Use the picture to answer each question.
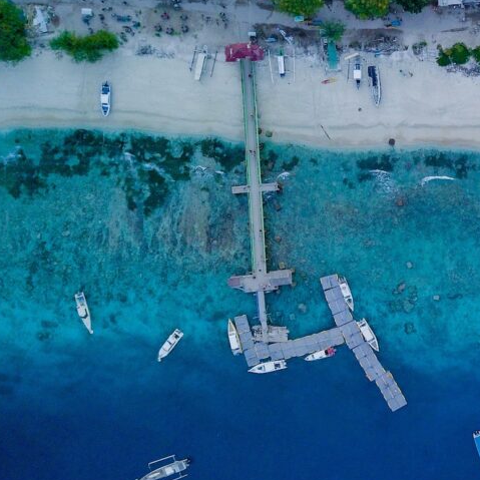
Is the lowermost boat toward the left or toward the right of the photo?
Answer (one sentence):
You can find the lowermost boat on the left side of the picture.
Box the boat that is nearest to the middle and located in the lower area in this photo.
[228,319,242,355]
